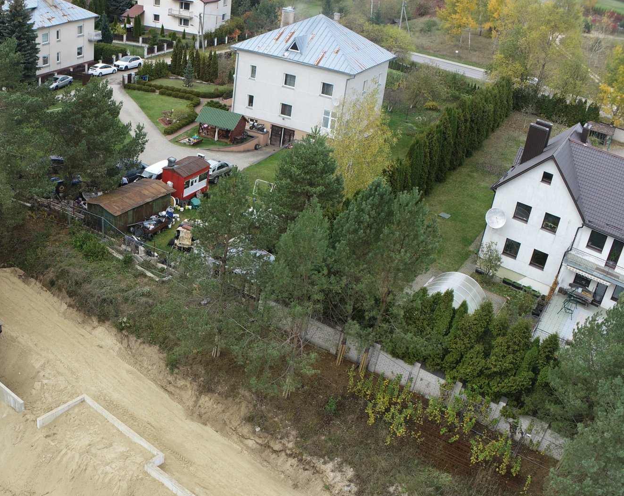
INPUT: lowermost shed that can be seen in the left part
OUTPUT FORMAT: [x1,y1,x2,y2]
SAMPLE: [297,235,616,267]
[83,176,176,233]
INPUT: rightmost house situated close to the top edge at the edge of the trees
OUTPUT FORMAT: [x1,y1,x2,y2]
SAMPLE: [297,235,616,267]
[231,5,393,147]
